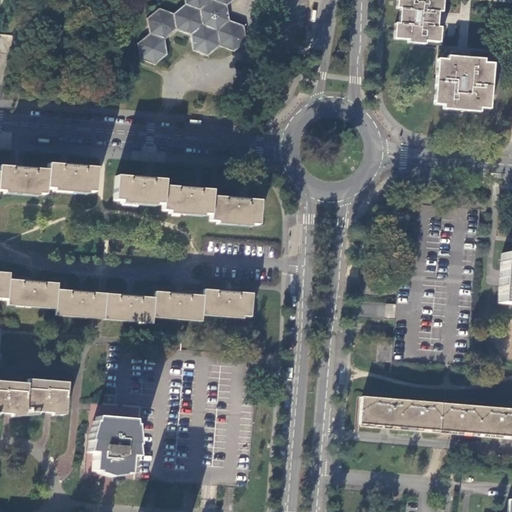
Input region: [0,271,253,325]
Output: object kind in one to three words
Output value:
building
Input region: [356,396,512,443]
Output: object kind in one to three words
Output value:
building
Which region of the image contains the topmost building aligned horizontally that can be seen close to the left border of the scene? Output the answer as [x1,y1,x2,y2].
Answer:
[0,162,100,201]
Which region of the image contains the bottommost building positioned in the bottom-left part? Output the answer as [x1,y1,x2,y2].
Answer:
[84,416,146,480]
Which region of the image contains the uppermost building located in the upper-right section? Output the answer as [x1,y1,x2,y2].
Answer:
[388,0,446,46]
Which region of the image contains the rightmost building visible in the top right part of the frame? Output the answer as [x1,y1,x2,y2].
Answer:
[432,55,498,113]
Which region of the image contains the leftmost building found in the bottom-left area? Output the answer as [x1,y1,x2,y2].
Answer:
[0,378,71,420]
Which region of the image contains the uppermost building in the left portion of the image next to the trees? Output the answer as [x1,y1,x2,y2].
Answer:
[138,0,248,64]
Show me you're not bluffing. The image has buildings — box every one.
[388,0,446,46]
[113,174,266,232]
[0,162,100,201]
[0,34,11,100]
[432,55,498,113]
[138,0,248,64]
[0,378,71,420]
[383,304,396,318]
[84,416,146,480]
[0,271,253,325]
[496,246,512,304]
[356,396,512,443]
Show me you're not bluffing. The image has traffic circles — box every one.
[282,96,384,203]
